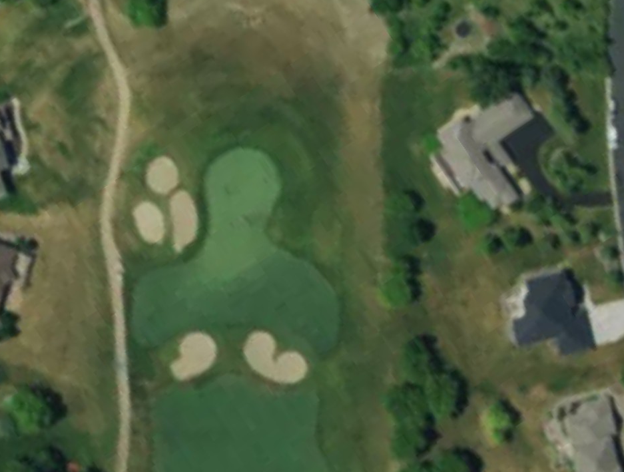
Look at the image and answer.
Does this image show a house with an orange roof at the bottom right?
No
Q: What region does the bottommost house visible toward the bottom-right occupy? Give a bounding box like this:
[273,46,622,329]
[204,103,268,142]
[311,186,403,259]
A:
[564,396,624,472]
